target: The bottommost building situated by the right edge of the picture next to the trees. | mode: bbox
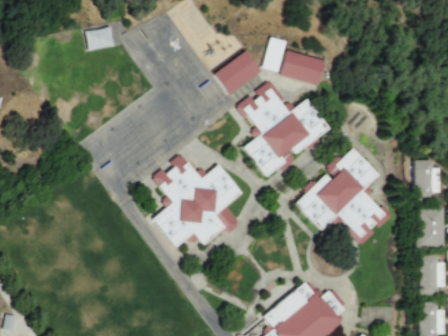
[420,302,446,336]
